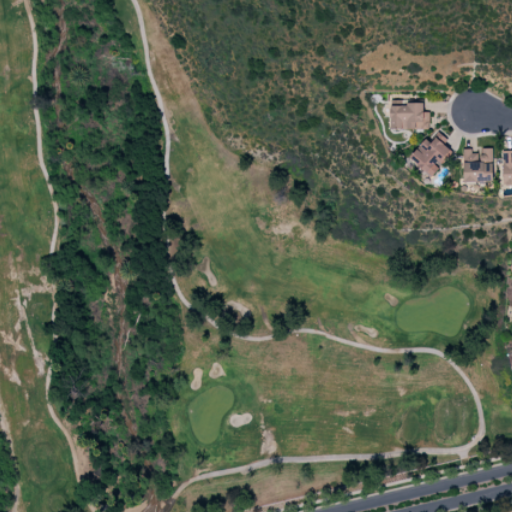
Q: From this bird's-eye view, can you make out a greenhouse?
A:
No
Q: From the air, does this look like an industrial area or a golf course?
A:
golf course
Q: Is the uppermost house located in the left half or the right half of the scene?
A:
right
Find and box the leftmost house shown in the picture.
[390,99,431,129]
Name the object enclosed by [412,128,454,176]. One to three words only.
house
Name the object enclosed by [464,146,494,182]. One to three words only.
house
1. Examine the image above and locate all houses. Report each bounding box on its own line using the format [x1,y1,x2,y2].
[504,150,512,186]
[464,146,494,182]
[412,128,454,176]
[390,99,431,129]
